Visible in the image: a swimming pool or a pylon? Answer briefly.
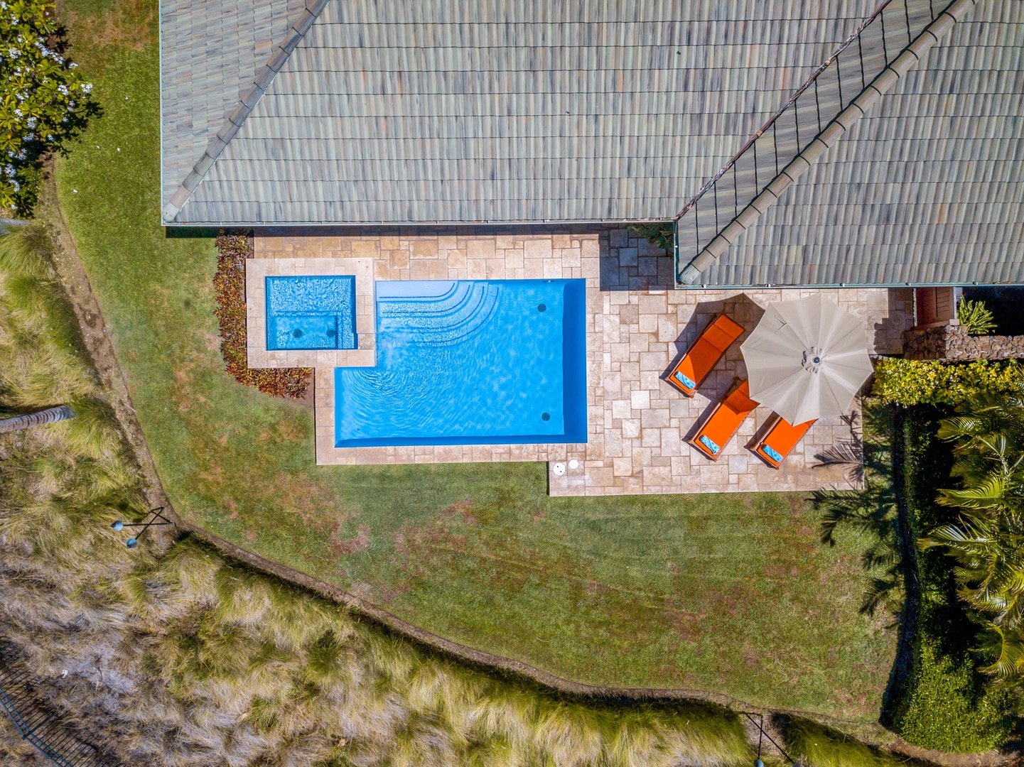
swimming pool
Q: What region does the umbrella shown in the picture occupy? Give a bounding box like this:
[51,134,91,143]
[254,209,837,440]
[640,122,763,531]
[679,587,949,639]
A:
[740,293,873,425]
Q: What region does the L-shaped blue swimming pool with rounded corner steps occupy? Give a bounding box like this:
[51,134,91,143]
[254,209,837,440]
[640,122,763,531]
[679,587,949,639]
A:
[315,277,606,465]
